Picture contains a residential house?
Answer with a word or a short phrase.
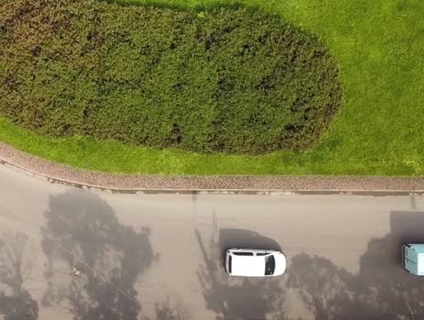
No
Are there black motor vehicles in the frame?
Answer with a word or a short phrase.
No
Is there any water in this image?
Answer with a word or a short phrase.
No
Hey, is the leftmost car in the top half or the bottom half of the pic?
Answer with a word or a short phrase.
bottom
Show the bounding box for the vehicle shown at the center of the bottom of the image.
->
[226,247,287,280]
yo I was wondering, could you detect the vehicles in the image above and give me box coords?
[226,247,287,280]
[400,242,424,276]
